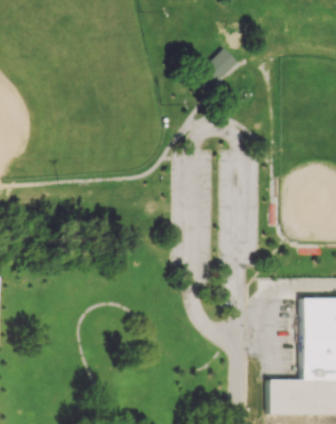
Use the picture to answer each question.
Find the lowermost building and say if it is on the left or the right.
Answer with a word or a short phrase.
right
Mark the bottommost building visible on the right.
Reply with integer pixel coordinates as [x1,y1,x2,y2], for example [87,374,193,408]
[264,379,336,416]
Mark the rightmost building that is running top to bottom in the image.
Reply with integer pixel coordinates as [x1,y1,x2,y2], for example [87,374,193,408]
[296,298,336,382]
